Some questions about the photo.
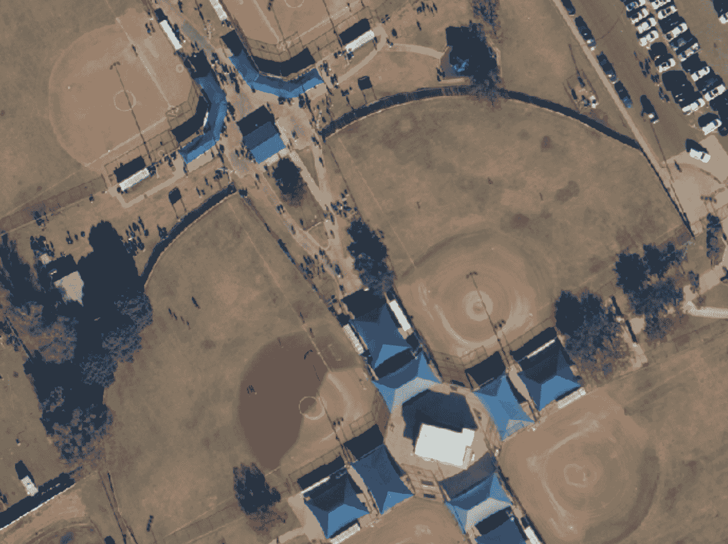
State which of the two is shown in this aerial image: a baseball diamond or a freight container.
baseball diamond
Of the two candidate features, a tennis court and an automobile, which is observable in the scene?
automobile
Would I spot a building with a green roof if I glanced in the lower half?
No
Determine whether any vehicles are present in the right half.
Yes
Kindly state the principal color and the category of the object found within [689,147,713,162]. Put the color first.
white vehicle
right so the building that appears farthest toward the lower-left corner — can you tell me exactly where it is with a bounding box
[54,271,86,310]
